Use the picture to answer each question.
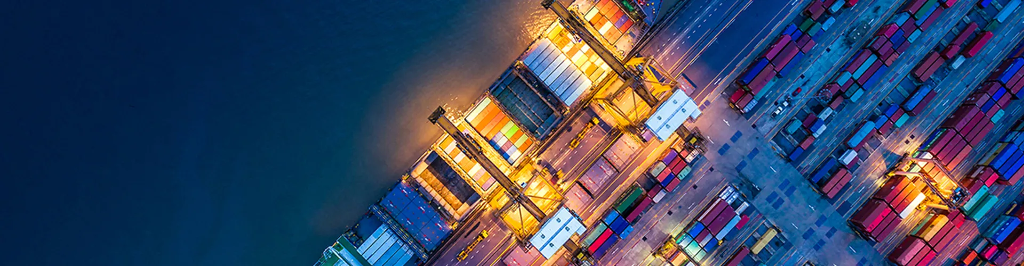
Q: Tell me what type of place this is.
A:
port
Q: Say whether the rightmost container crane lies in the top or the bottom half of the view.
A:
bottom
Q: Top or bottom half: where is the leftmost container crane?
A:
bottom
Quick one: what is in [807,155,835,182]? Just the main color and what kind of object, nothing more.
blue shipping container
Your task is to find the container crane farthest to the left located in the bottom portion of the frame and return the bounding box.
[431,104,595,266]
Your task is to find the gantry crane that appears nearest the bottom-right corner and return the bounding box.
[890,152,970,211]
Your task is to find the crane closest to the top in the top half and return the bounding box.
[543,0,707,156]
